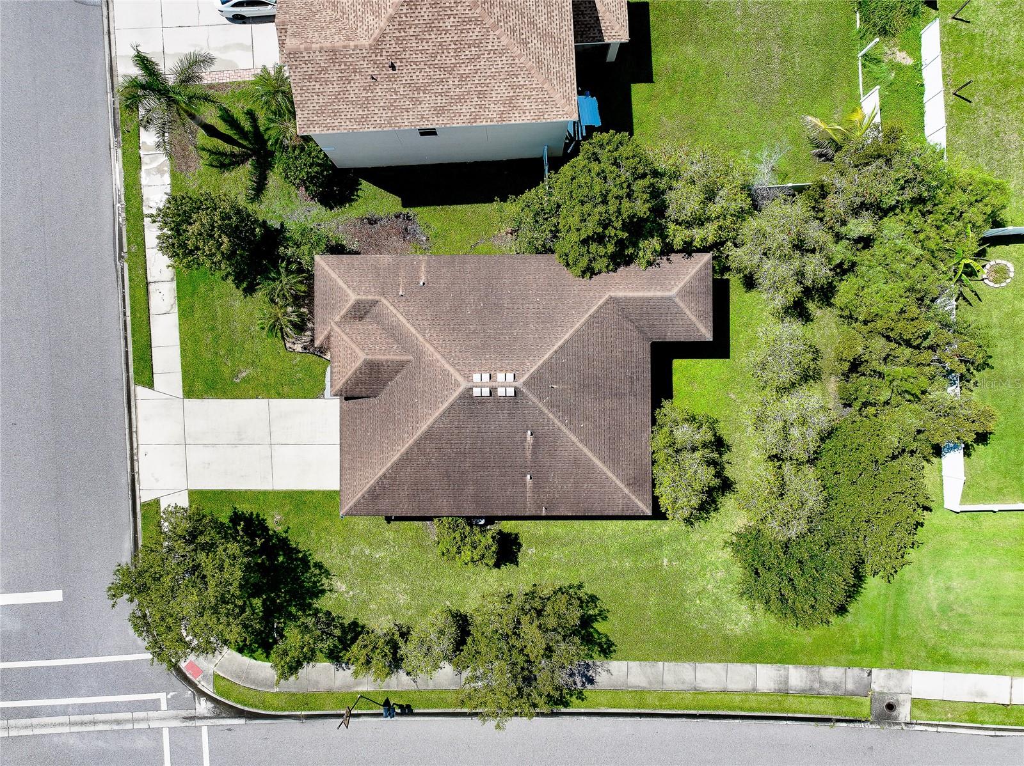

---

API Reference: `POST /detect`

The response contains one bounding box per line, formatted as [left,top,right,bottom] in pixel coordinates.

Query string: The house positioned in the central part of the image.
[314,254,713,517]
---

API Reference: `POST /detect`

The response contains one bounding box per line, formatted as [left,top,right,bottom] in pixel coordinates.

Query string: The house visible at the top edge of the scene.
[272,0,631,167]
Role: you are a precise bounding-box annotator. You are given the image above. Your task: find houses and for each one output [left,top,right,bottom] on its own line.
[272,0,631,167]
[314,254,713,517]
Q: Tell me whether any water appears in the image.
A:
No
